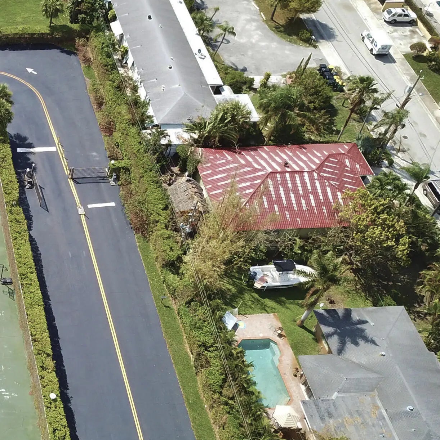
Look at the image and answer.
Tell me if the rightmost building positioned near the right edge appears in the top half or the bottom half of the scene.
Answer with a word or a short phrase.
bottom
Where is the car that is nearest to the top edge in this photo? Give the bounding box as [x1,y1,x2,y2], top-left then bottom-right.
[381,6,418,25]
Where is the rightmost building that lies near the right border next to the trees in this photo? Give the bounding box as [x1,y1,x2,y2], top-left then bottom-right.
[293,306,440,440]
